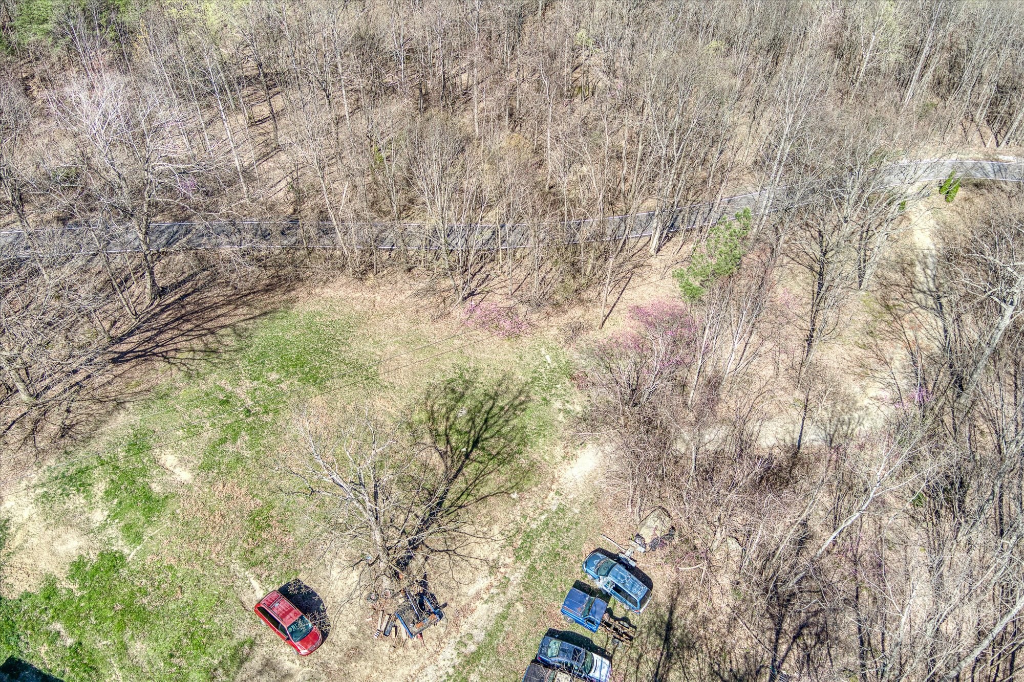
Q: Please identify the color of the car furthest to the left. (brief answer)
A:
red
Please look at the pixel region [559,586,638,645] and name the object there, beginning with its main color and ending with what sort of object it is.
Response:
blue truck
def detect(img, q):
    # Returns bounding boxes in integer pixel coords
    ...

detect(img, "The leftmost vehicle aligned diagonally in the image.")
[252,591,323,658]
